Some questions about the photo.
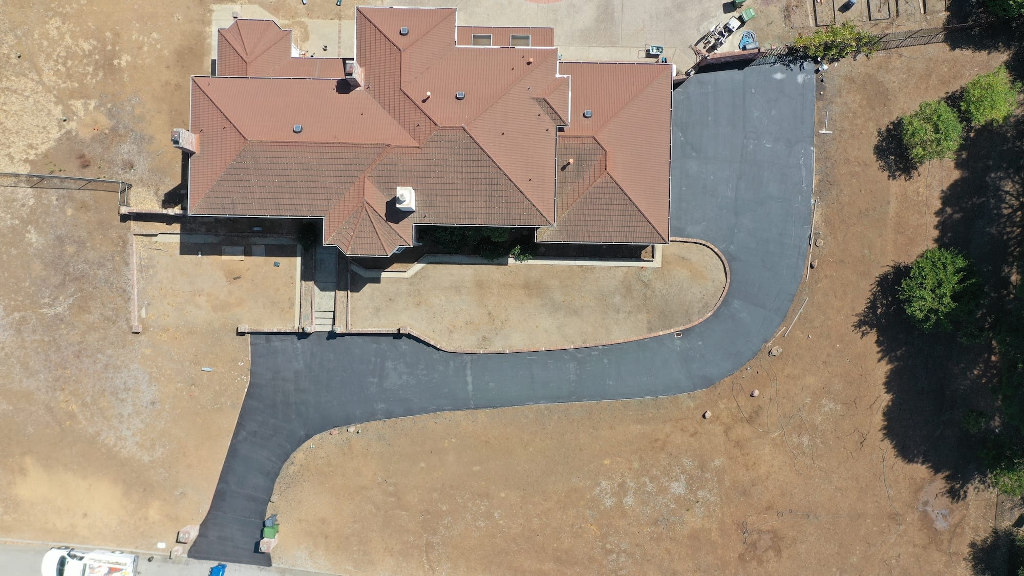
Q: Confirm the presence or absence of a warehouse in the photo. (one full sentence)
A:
No, the photo shows no warehouse.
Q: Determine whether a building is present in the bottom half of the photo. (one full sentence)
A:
No, in the bottom half of the photo there is no building.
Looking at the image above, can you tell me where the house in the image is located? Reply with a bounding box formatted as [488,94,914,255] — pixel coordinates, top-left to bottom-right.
[169,5,672,257]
